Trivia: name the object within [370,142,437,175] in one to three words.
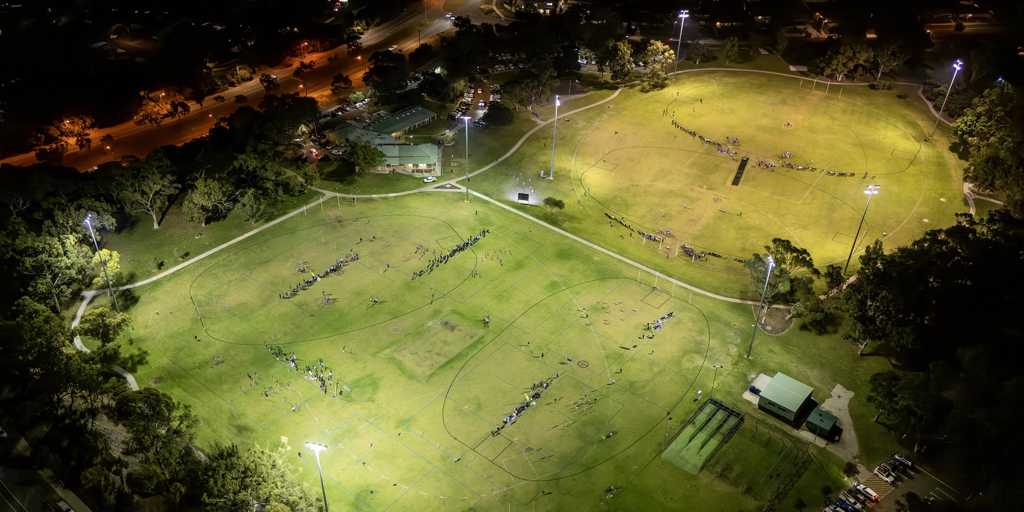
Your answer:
building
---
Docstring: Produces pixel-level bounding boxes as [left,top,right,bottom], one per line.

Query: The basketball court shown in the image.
[535,80,595,107]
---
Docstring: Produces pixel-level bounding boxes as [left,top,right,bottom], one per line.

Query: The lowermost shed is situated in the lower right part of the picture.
[805,407,838,438]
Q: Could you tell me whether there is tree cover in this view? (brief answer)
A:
Yes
